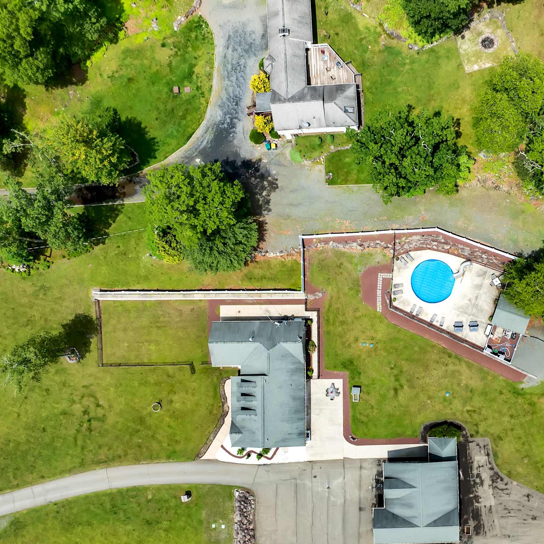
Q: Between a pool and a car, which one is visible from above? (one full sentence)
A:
I can see a pool in this picture.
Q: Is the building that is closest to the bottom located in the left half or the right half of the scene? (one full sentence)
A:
You can find the building that is closest to the bottom on the right side of the picture.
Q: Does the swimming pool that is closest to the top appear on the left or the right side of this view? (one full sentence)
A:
The swimming pool that is closest to the top sits on the right side.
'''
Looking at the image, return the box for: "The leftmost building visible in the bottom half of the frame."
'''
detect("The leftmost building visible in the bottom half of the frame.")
[208,321,308,448]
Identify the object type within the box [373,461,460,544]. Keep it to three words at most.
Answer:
building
